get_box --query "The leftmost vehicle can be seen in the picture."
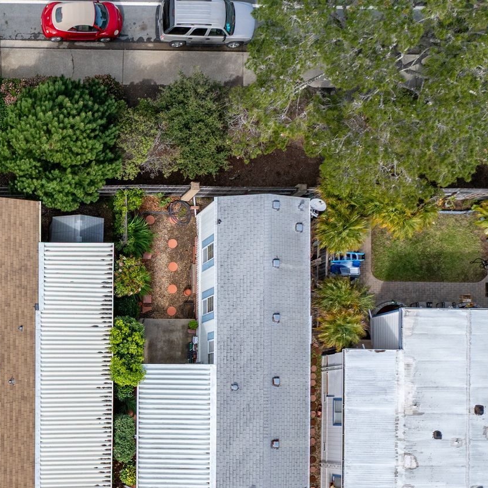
[40,0,122,43]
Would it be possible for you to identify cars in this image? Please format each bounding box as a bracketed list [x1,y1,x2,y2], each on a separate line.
[40,0,122,43]
[152,0,255,47]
